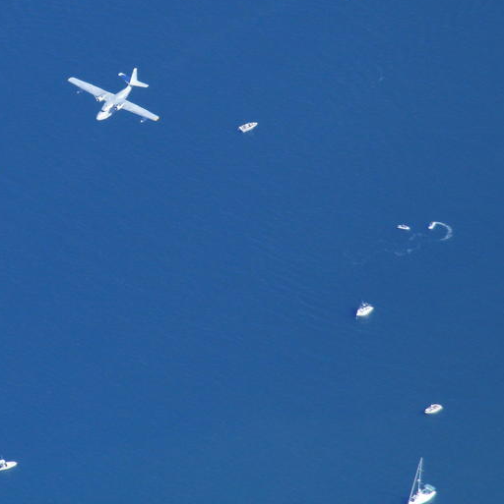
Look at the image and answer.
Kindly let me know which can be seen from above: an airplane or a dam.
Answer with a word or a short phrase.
airplane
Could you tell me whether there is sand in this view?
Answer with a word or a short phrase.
No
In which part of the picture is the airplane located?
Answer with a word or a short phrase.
top left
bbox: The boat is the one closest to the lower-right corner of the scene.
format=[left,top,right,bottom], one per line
[407,458,437,504]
